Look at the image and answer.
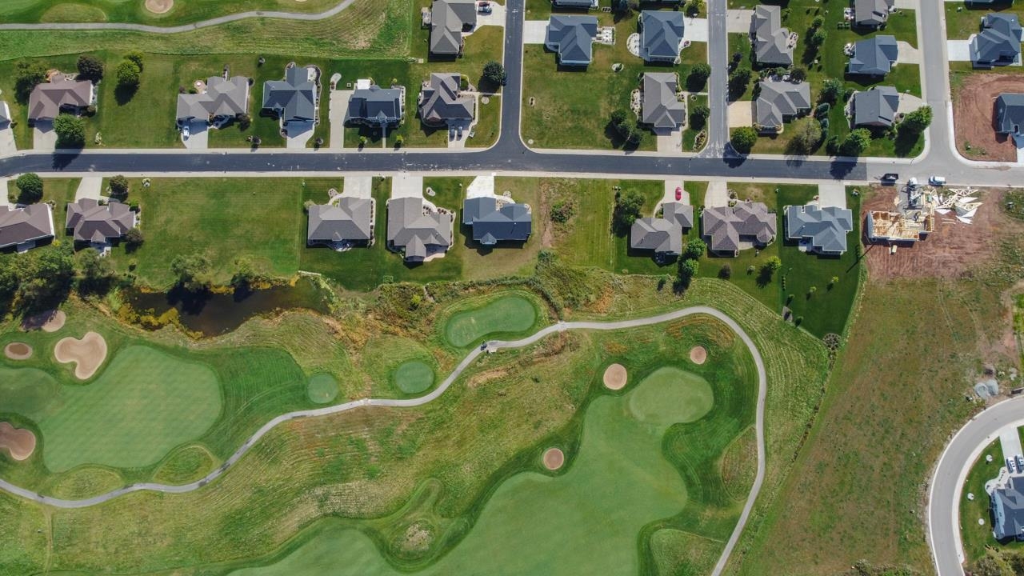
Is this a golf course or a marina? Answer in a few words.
golf course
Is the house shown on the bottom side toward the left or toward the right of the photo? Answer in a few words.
right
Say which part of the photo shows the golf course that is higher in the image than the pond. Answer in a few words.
top left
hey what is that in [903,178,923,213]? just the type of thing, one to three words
vehicle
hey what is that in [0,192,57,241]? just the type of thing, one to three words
house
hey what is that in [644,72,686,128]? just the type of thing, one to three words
house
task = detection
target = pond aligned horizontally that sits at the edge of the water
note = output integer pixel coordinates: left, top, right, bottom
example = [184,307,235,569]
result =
[123,279,336,337]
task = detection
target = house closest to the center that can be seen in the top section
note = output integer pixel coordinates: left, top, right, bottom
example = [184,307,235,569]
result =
[463,196,532,244]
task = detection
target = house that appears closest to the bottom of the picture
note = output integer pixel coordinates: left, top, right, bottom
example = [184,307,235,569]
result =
[991,474,1024,542]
